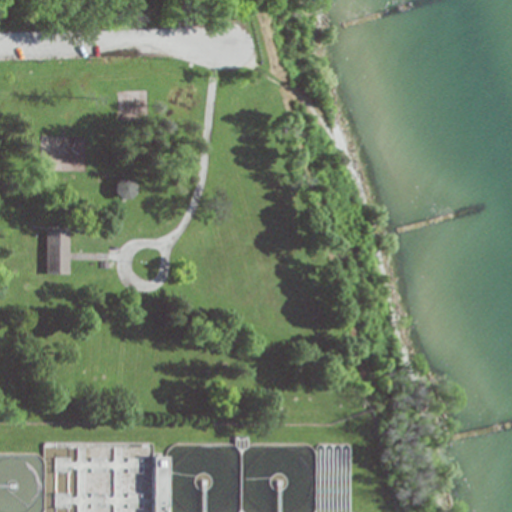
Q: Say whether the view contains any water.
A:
Yes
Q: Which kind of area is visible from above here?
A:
industrial area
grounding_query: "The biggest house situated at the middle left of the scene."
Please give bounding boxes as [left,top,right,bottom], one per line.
[46,233,70,274]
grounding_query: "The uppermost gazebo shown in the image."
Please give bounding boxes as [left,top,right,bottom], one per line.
[118,180,138,200]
